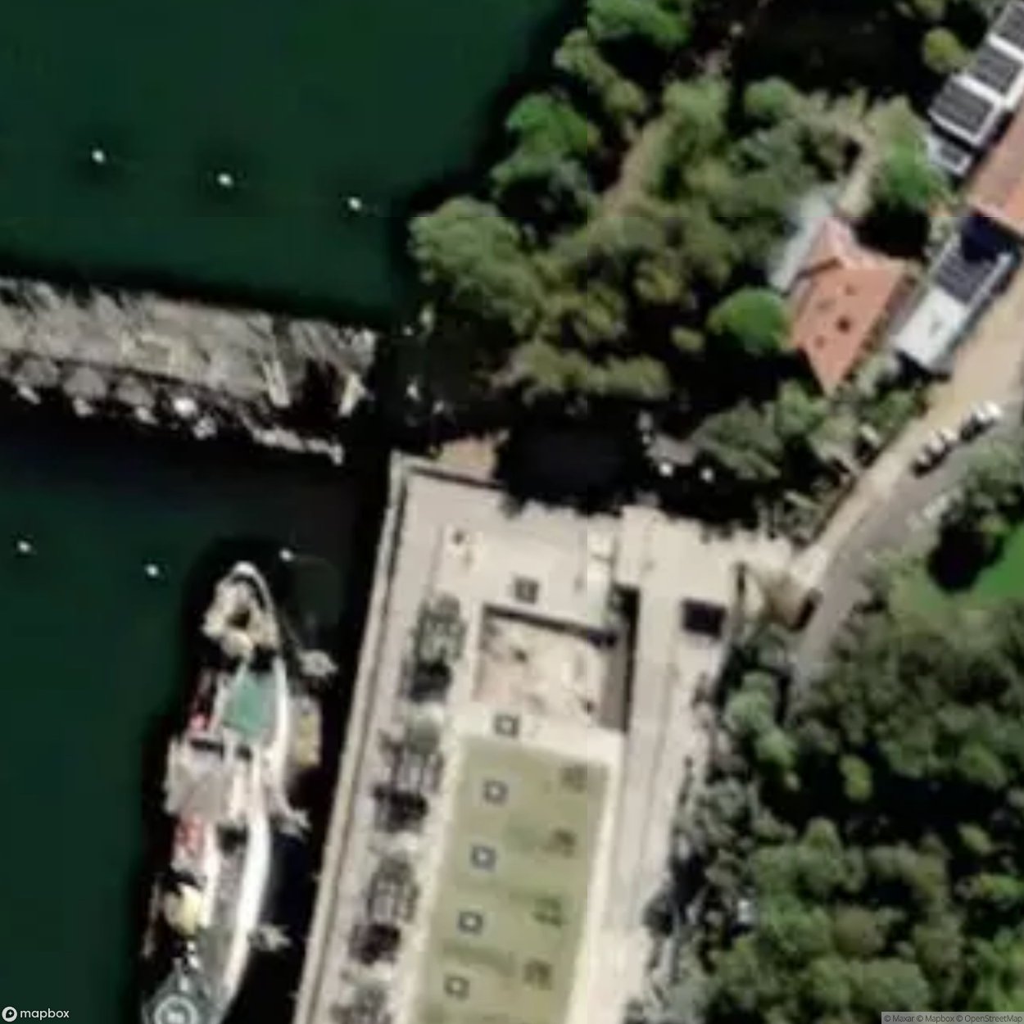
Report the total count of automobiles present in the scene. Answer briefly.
two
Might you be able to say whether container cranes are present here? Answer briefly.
No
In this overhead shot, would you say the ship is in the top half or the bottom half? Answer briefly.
bottom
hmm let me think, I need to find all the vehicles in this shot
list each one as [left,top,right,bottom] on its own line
[959,396,1005,438]
[915,431,961,473]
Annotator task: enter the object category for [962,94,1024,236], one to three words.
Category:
house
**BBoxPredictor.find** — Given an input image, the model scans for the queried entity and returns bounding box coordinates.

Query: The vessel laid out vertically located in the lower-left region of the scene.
[137,562,292,1024]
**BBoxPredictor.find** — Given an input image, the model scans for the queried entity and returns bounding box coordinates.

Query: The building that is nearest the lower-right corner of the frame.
[735,898,763,920]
